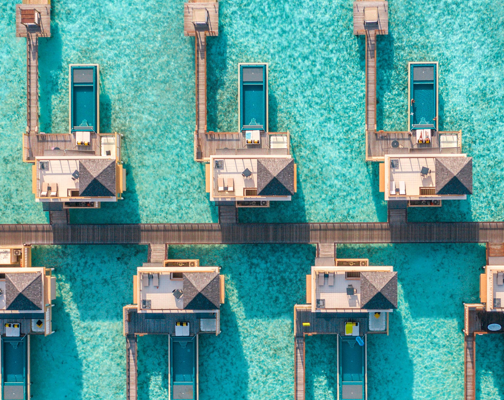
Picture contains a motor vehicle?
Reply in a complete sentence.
No, this view has no motor vehicle in it.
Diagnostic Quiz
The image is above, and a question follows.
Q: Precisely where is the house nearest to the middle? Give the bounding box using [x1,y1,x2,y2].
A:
[193,130,298,211]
